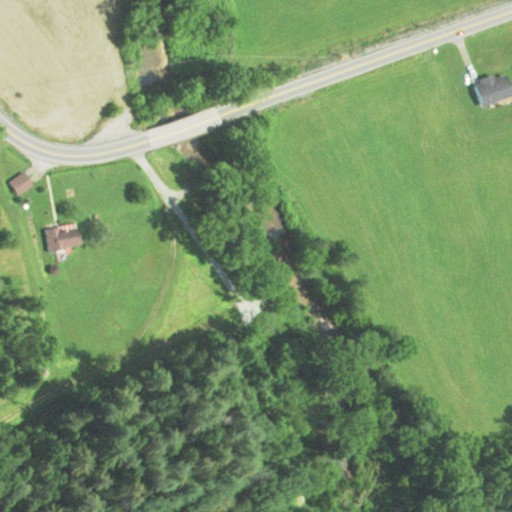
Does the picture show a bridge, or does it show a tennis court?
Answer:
bridge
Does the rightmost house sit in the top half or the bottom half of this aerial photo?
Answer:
top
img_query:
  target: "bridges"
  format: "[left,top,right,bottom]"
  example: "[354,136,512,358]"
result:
[148,109,222,151]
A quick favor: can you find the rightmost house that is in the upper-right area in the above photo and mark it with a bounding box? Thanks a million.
[475,76,512,110]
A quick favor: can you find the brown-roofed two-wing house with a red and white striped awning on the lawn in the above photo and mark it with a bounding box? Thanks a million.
[43,226,83,260]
